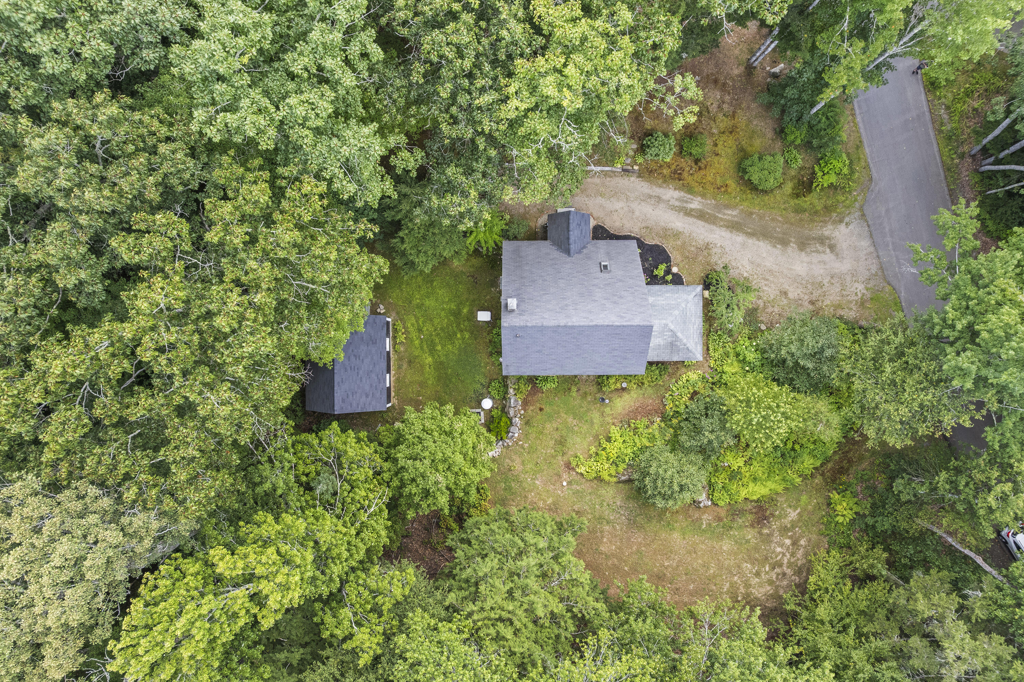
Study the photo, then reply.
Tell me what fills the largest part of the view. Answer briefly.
trees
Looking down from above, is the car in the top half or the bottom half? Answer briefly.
bottom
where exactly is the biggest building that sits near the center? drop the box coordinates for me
[499,210,703,374]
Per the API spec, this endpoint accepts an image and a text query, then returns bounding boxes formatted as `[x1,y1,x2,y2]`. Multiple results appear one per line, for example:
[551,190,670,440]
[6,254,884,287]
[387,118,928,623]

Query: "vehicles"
[1004,523,1024,571]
